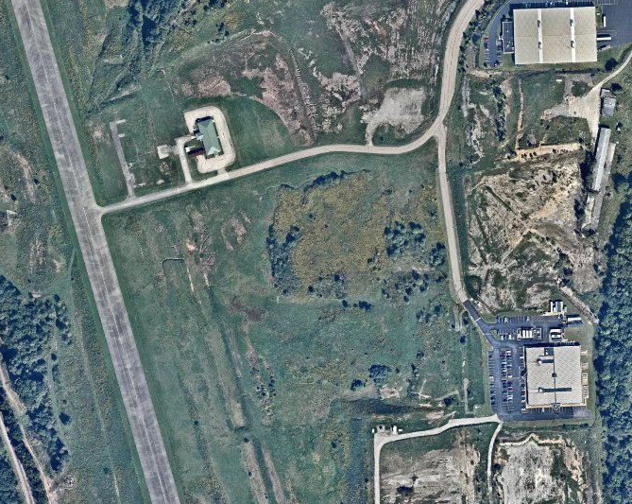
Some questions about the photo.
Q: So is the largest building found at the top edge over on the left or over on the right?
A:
right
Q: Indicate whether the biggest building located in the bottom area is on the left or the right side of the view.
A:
right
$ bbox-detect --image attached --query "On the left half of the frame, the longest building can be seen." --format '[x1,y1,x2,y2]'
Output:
[198,120,221,155]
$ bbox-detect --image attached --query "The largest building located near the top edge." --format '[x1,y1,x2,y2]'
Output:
[514,7,598,65]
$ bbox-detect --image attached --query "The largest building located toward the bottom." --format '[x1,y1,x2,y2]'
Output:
[522,346,584,410]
